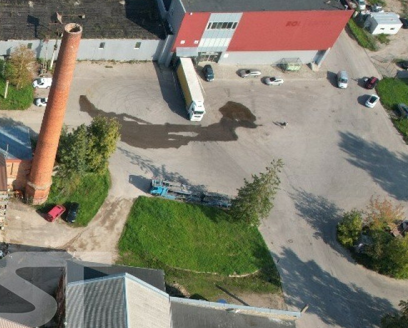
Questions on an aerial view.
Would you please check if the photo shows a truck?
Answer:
Yes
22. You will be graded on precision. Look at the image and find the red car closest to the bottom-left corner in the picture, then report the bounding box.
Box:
[46,204,65,224]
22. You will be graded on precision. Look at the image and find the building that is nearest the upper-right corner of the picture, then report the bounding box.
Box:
[363,12,401,35]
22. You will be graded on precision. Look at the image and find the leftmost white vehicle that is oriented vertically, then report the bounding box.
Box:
[178,57,207,120]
